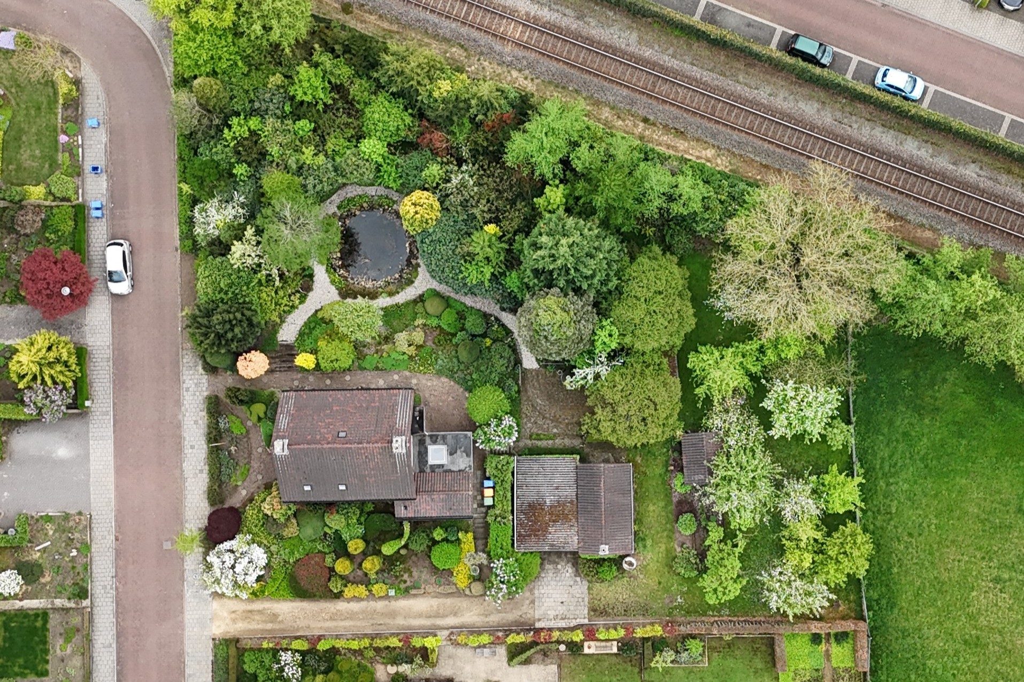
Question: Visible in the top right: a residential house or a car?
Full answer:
The one visible in the top right is a car.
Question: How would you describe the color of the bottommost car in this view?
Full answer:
The bottommost car is white.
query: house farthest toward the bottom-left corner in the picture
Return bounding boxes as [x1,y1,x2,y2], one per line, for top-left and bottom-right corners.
[270,387,473,521]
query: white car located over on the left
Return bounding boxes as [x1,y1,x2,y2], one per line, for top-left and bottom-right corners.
[104,240,135,295]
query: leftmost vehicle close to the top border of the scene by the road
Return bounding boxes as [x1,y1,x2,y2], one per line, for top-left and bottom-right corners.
[782,31,837,70]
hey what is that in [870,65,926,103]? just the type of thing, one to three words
car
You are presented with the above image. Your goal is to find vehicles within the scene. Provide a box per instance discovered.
[870,65,926,103]
[104,240,135,295]
[997,0,1024,17]
[782,31,837,70]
